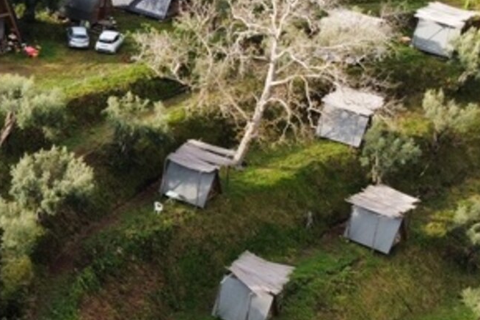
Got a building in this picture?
Yes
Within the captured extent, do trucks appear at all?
No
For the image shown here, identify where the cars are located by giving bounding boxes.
[88,22,129,58]
[65,21,92,51]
